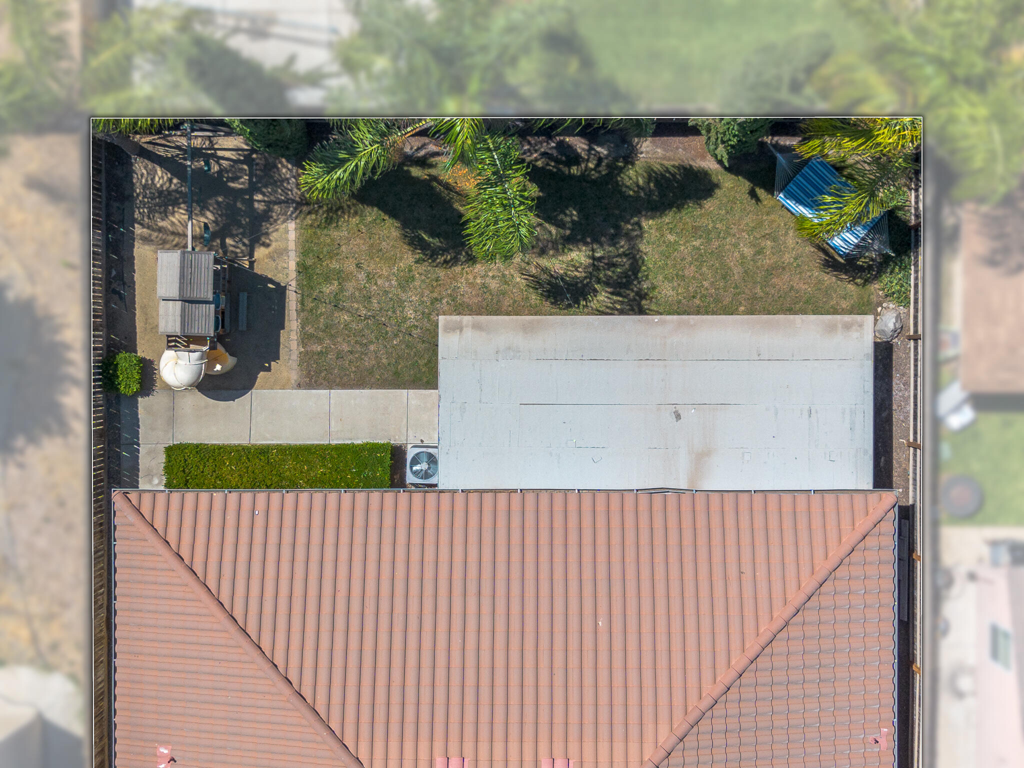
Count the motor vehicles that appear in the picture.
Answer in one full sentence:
There are no motor vehicles in the image.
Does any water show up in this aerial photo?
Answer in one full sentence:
No, no water is visible.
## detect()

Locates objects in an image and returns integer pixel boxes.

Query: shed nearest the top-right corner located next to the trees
[939,202,1024,394]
